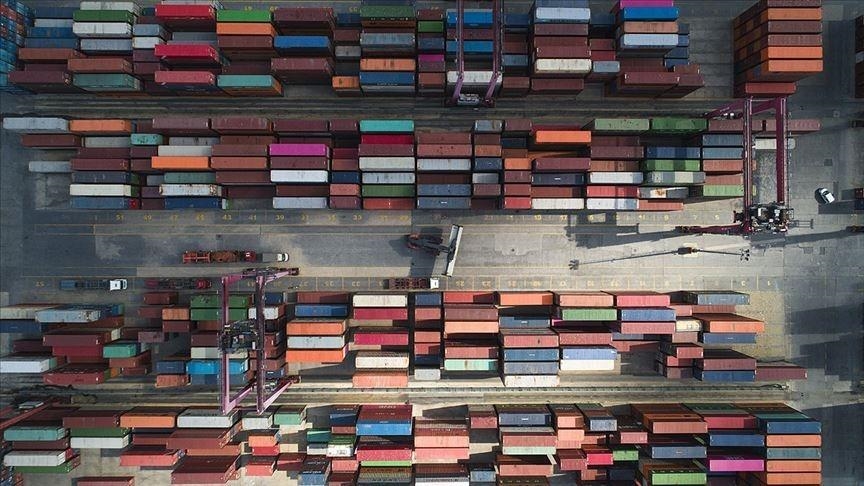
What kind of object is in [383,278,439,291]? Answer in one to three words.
vehicle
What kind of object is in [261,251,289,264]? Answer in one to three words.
vehicle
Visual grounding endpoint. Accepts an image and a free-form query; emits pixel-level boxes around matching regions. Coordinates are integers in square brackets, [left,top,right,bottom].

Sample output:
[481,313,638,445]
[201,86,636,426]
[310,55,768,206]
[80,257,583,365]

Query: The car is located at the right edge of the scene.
[816,186,834,205]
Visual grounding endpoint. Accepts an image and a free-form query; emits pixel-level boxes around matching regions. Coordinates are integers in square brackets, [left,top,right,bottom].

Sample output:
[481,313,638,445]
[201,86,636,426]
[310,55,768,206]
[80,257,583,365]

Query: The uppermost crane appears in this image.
[438,0,504,105]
